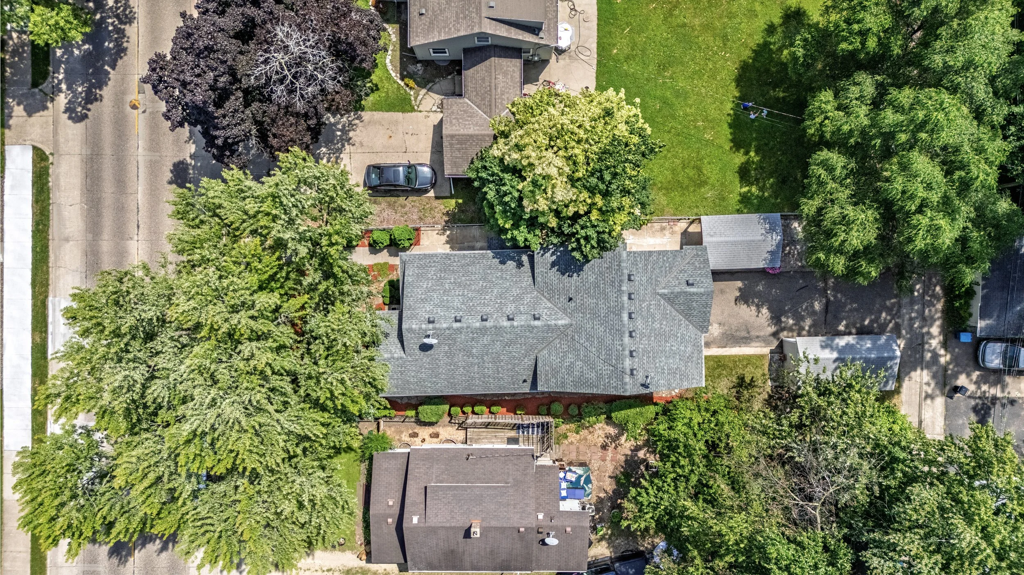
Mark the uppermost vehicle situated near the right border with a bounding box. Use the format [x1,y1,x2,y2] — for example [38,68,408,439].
[976,338,1024,373]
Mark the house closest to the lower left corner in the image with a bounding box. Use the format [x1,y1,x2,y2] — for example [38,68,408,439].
[370,443,589,574]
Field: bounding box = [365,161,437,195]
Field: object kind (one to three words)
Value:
car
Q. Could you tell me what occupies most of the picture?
trees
